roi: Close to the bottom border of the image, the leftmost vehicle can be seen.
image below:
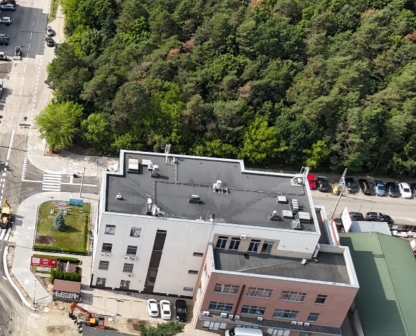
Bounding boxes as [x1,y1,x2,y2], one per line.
[66,304,105,329]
